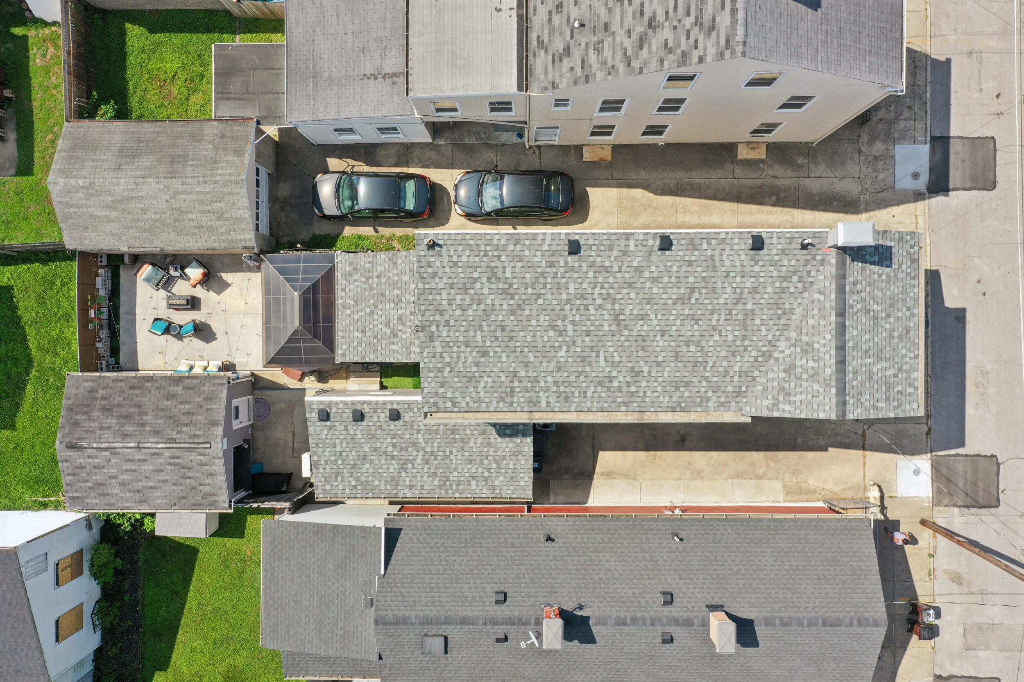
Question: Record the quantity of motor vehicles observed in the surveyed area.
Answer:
2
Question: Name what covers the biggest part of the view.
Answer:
buildings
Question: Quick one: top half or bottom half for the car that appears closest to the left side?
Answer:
top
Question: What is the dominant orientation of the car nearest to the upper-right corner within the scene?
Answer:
from side to side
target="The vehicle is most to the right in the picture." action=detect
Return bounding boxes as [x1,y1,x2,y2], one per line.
[453,164,574,222]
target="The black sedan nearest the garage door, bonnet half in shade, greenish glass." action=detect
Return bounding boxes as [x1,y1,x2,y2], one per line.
[311,165,433,223]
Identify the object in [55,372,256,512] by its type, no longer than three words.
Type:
building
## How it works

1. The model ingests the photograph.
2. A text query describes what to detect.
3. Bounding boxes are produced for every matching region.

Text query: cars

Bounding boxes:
[453,164,574,222]
[311,165,433,223]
